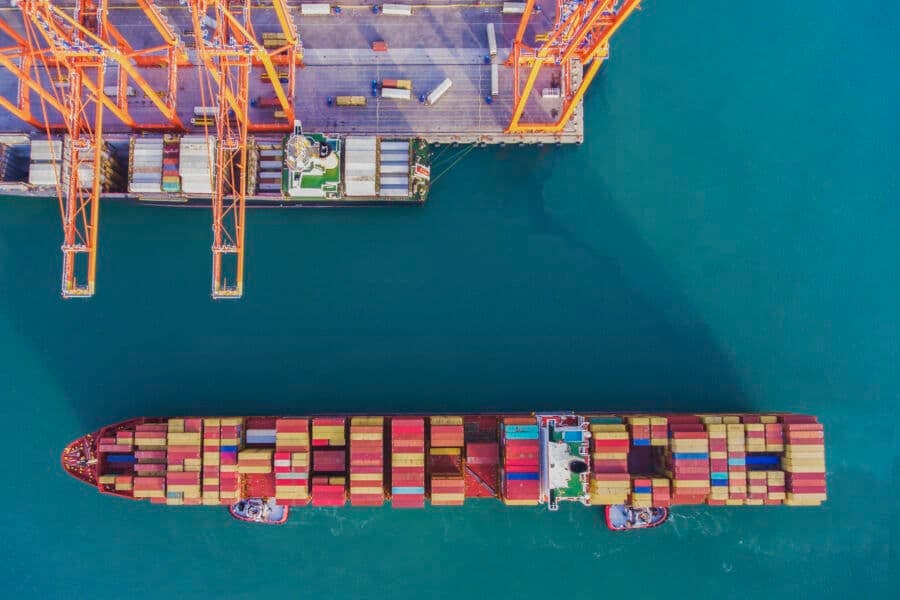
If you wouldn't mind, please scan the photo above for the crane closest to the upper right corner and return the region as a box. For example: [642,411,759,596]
[503,0,639,129]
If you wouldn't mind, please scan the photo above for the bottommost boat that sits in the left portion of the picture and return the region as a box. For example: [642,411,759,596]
[228,499,291,524]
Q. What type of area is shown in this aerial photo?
port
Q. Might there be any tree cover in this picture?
No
